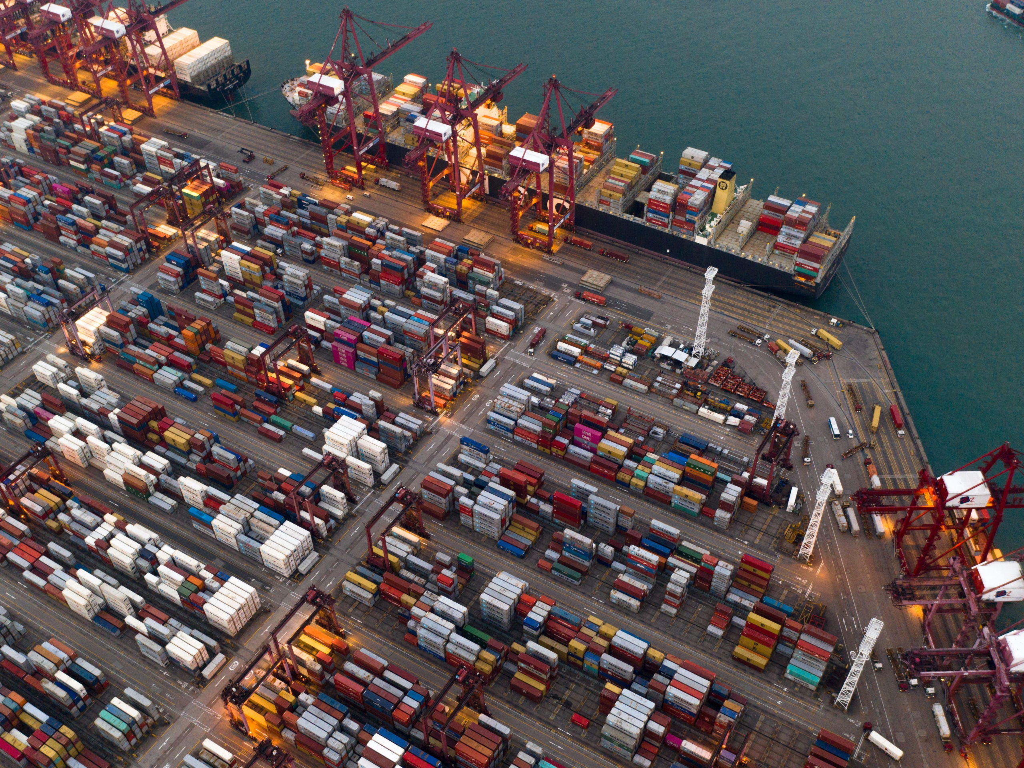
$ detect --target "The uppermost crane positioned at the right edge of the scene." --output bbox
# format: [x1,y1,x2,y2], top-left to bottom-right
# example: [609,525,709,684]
[849,445,1024,586]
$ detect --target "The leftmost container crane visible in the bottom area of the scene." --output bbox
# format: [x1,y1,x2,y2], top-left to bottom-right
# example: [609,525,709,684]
[0,436,75,523]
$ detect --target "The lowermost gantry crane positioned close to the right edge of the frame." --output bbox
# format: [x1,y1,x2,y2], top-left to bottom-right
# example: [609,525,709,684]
[903,627,1024,754]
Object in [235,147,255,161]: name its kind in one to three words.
work vehicle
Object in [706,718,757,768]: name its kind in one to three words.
container crane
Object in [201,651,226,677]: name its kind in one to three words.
shipping container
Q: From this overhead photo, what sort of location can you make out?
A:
port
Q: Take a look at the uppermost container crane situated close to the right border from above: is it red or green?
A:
red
